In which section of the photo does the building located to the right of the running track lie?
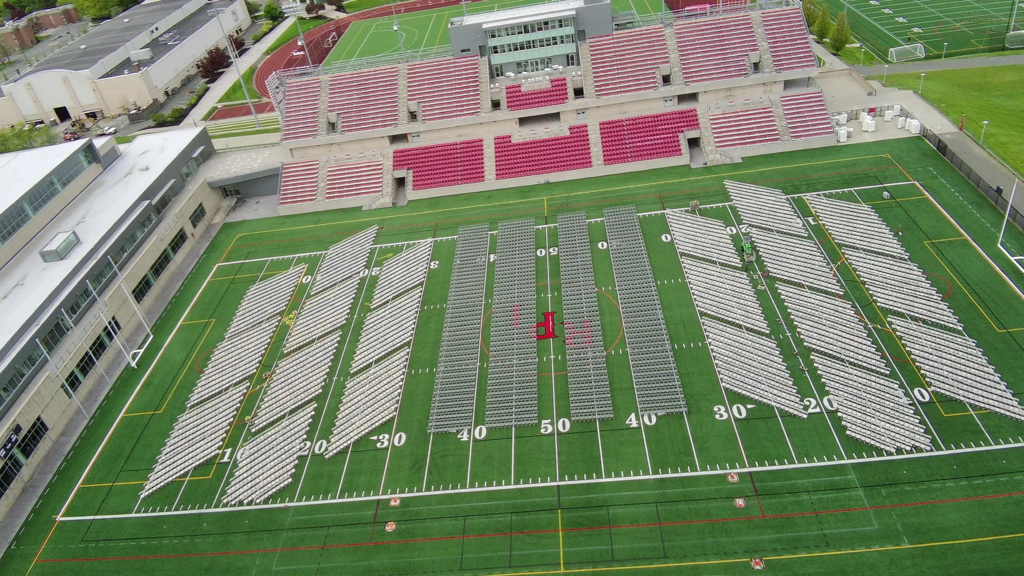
top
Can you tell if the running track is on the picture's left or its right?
left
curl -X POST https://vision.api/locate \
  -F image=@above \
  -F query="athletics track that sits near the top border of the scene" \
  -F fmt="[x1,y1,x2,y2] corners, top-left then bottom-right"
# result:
[256,0,452,91]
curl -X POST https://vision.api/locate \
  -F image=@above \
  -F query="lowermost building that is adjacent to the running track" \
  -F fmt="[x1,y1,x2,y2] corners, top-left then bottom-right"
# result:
[0,125,220,517]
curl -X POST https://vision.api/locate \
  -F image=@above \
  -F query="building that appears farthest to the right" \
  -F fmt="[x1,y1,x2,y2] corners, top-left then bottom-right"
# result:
[448,0,614,77]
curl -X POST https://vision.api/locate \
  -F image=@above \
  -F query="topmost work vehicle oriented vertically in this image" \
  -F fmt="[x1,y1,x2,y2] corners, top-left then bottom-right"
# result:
[741,232,757,260]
